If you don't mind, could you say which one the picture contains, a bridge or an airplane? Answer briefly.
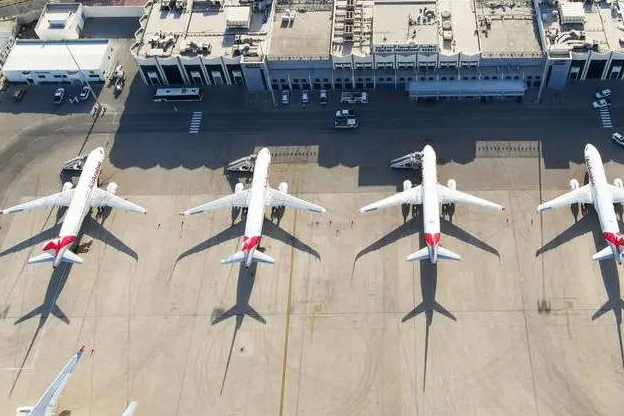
airplane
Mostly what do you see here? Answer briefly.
paved ground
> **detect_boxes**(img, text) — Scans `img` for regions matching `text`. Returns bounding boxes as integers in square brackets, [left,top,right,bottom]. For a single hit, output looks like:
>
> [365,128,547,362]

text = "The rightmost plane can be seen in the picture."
[537,144,624,262]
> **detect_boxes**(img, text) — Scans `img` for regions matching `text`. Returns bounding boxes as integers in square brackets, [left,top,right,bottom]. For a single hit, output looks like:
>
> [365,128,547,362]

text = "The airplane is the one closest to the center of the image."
[184,146,325,266]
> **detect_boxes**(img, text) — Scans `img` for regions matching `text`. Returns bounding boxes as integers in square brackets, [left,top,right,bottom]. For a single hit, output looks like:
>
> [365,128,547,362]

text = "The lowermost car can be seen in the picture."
[610,133,624,146]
